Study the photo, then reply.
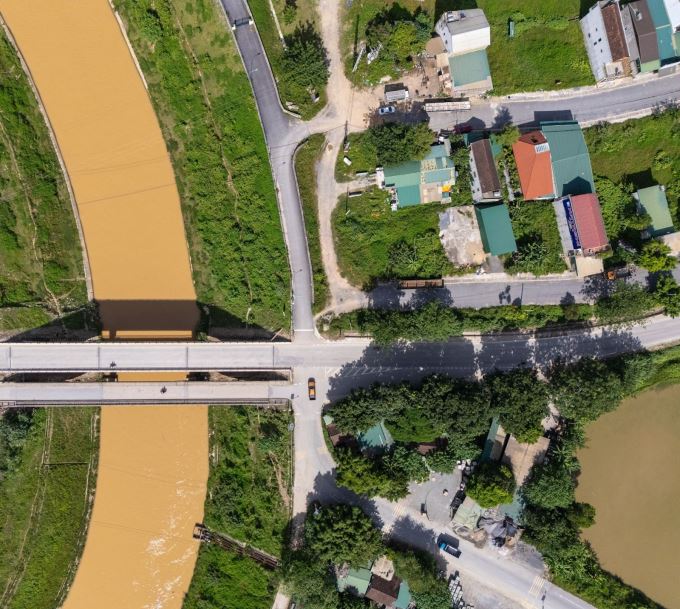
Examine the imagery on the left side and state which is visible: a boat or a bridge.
bridge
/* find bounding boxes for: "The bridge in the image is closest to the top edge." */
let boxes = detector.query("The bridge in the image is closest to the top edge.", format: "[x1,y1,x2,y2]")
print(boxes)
[0,342,294,374]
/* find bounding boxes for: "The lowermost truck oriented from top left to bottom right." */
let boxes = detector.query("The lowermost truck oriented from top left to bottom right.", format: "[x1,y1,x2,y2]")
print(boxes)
[438,540,464,562]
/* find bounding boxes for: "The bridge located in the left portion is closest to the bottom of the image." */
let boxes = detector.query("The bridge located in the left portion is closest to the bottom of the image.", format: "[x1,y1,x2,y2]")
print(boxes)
[0,379,292,406]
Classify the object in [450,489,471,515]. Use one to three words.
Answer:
truck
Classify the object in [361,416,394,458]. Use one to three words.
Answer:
shed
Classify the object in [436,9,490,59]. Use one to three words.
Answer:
house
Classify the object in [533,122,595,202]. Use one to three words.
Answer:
barn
